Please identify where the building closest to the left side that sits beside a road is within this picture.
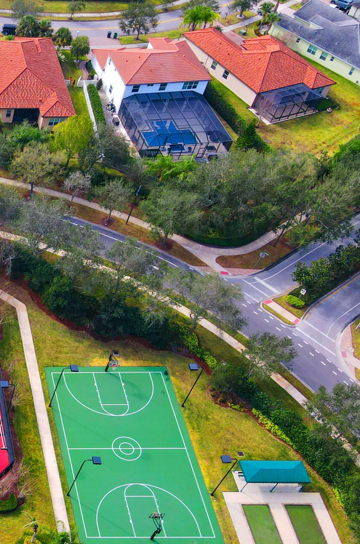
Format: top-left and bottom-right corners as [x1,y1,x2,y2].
[0,36,76,130]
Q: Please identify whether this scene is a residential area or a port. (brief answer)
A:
residential area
